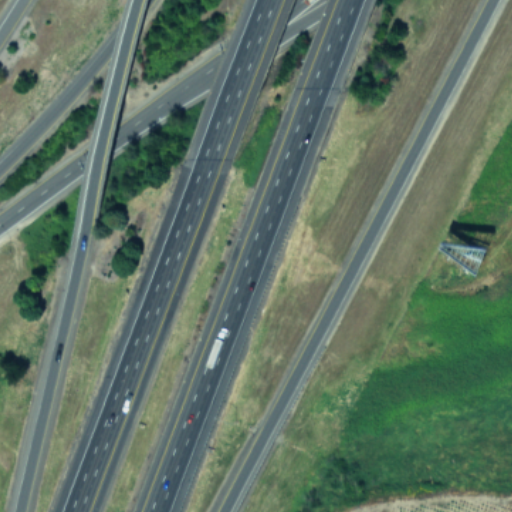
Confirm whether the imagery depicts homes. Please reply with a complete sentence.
No, I can't see a single home in this photo.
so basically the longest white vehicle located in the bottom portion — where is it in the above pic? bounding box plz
[208,326,230,368]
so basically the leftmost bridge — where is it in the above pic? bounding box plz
[69,0,148,250]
